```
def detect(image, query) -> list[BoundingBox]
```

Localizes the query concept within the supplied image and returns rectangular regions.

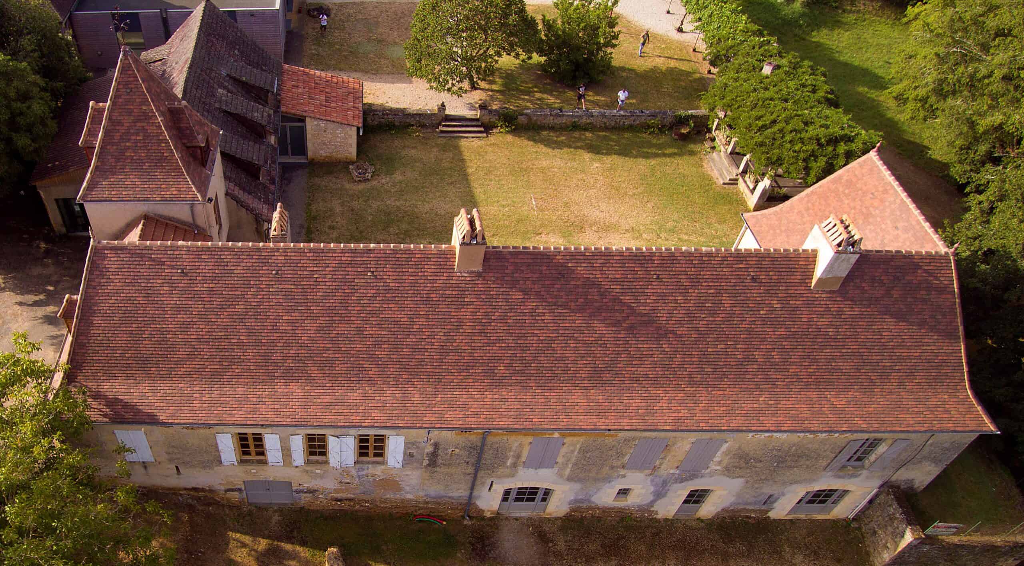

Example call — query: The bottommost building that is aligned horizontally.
[30,139,1004,523]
